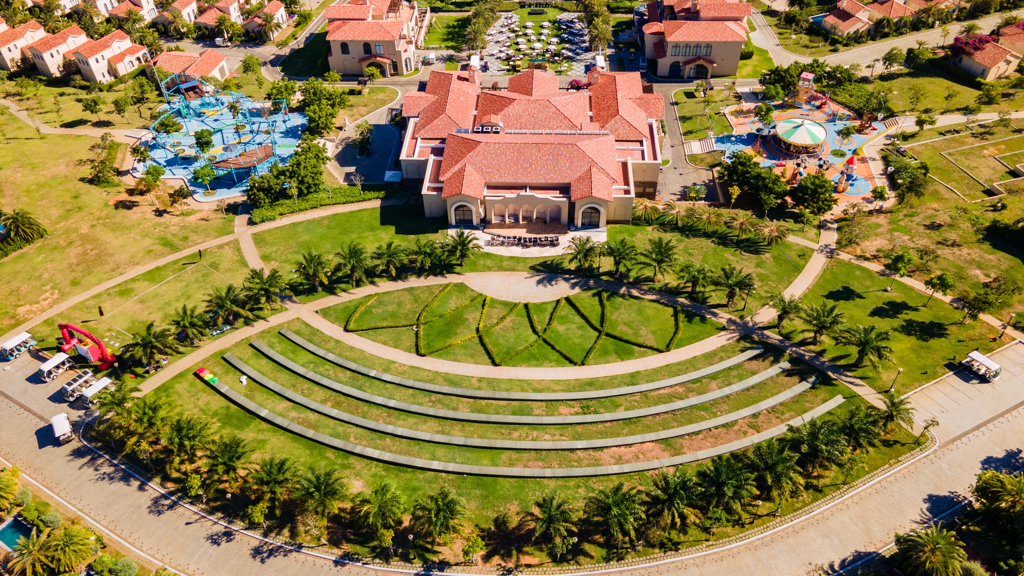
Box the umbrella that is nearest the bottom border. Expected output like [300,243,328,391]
[381,167,401,181]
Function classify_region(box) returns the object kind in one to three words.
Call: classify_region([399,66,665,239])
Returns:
building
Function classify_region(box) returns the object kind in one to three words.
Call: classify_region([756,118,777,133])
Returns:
umbrella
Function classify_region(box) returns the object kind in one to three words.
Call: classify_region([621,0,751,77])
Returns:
house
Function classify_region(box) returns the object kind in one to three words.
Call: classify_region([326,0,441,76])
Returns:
house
